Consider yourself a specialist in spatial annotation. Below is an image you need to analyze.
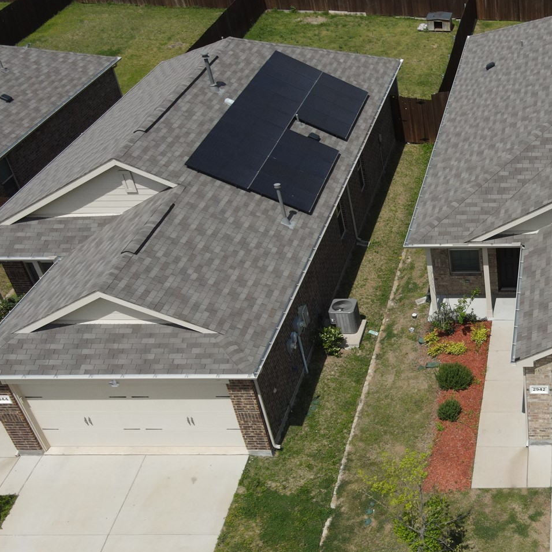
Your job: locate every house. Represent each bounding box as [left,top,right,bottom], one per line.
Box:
[0,37,404,460]
[404,16,552,447]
